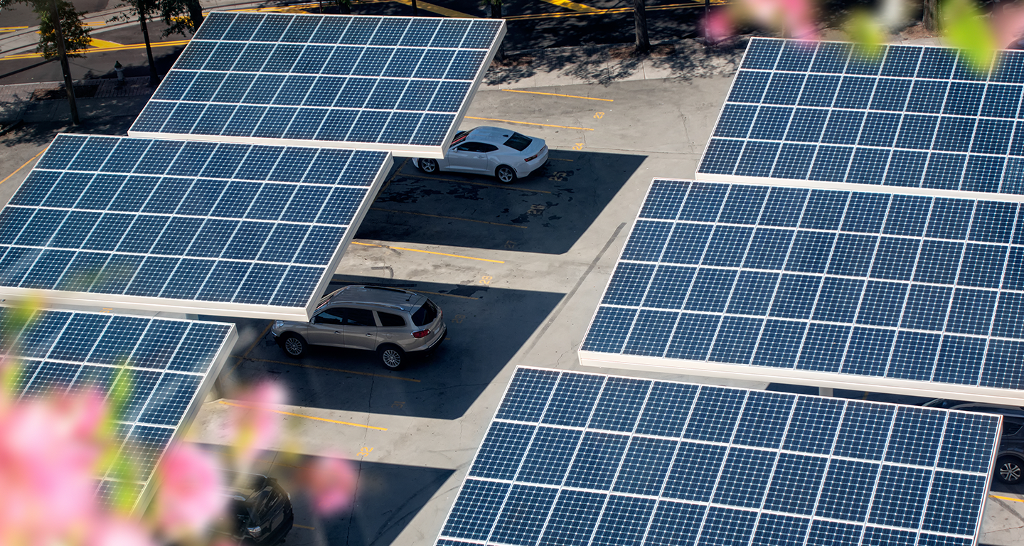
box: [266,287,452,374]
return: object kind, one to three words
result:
car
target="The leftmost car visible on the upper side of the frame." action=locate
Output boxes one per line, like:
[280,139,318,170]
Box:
[405,125,553,184]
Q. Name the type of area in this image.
solar farm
